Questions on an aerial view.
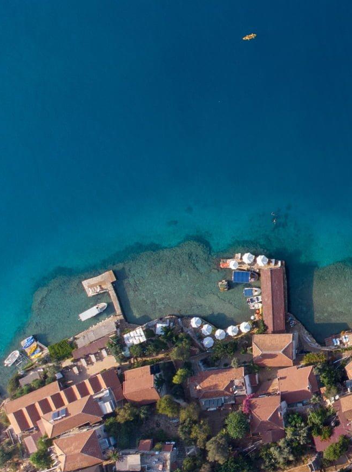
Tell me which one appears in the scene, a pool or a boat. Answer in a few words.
boat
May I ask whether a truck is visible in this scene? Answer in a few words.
No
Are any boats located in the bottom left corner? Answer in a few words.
Yes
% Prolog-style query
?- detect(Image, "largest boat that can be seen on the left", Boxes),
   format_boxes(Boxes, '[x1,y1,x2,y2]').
[73,305,107,323]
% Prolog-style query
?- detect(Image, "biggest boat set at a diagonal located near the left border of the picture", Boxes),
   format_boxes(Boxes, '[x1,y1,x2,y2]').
[2,351,19,367]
